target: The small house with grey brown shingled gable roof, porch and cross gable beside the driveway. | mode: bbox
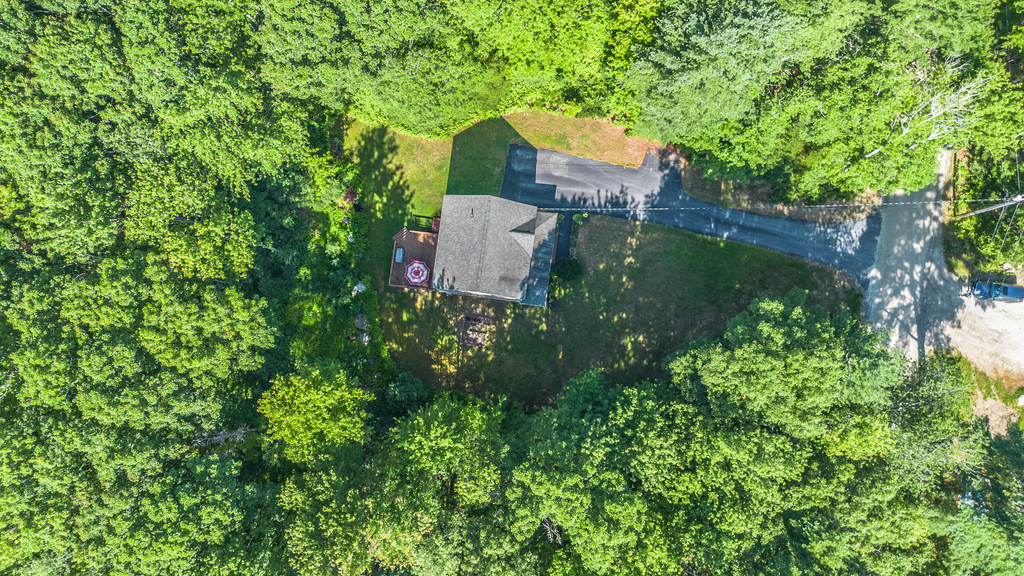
[430,194,559,308]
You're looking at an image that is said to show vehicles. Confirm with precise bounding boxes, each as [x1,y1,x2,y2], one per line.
[974,279,1024,305]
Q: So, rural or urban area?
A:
rural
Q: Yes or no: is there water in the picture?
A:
No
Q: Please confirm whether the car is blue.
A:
Yes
